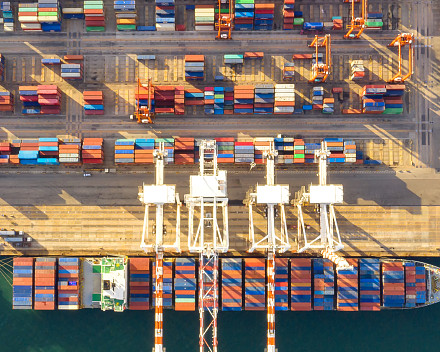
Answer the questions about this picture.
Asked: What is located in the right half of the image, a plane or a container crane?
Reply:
container crane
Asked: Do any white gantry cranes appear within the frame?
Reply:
Yes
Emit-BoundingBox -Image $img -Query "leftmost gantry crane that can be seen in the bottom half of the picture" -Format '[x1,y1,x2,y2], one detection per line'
[132,133,182,352]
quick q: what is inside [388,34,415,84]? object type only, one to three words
container crane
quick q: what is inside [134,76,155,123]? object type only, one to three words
container crane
